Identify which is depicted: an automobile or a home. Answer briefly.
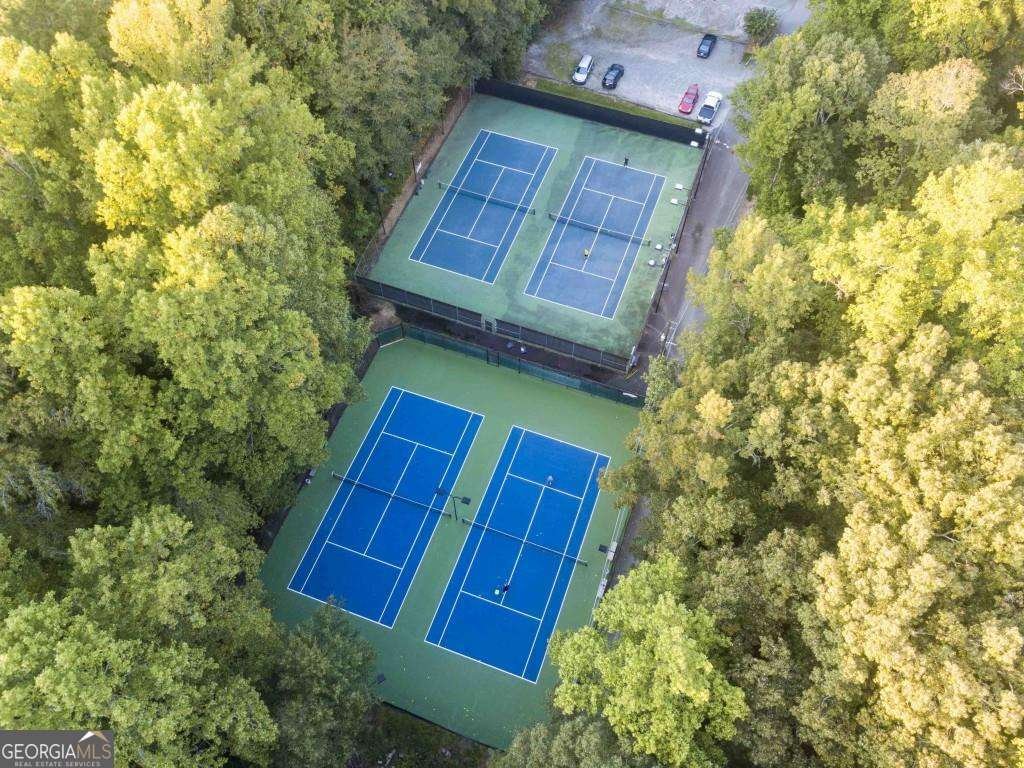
automobile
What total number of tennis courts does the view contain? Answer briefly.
4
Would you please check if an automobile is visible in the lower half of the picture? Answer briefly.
No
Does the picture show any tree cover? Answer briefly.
Yes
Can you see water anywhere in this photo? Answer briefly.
No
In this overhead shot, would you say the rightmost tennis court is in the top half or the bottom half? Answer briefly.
top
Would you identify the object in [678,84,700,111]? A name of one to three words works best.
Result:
car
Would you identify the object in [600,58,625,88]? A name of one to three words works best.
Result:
car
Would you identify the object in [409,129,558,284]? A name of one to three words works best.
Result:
tennis court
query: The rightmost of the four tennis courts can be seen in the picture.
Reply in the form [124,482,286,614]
[523,156,666,320]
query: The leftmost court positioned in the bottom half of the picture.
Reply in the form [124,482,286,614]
[288,386,485,629]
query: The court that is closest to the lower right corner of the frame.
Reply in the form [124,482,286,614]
[424,425,612,684]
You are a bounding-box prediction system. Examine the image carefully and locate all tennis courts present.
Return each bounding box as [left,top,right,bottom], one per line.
[523,156,666,320]
[288,386,485,629]
[409,129,558,284]
[424,425,612,684]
